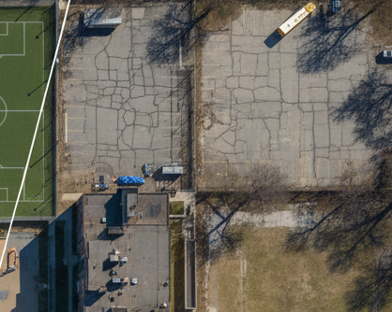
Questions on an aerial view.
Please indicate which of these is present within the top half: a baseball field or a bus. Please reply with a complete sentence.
Looking within the top half, you will find a bus.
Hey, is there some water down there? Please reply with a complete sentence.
No, there is no water in the image.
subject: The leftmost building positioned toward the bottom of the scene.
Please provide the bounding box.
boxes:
[77,188,170,312]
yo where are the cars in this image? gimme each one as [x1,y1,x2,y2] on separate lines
[329,0,340,13]
[381,48,392,58]
[93,179,112,190]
